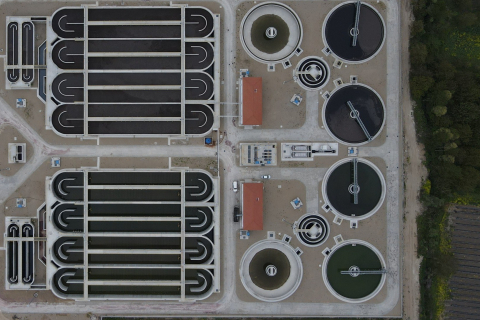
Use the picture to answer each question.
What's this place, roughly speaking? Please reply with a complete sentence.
This image shows an industrial area.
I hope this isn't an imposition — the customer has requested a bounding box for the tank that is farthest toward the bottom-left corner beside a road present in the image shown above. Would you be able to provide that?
[0,203,47,289]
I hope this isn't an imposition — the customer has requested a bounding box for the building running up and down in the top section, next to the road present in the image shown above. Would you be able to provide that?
[241,77,262,125]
